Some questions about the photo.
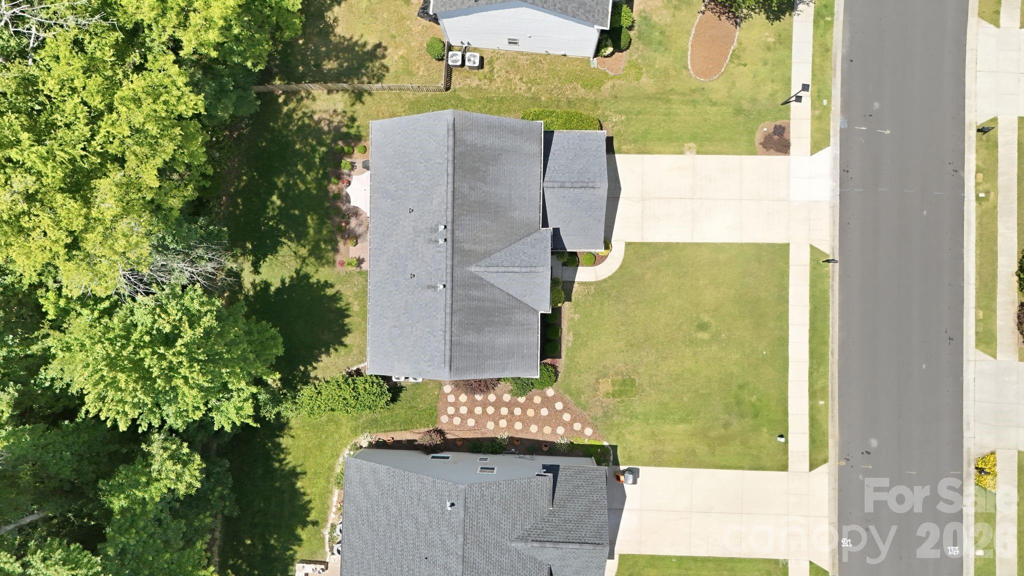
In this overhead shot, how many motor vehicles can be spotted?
0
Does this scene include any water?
No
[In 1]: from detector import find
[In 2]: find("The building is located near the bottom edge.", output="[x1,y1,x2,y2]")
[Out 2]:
[341,448,610,576]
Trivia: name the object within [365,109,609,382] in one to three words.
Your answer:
house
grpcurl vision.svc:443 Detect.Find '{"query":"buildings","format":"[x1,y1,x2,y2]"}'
[365,109,609,382]
[428,0,615,57]
[341,448,610,576]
